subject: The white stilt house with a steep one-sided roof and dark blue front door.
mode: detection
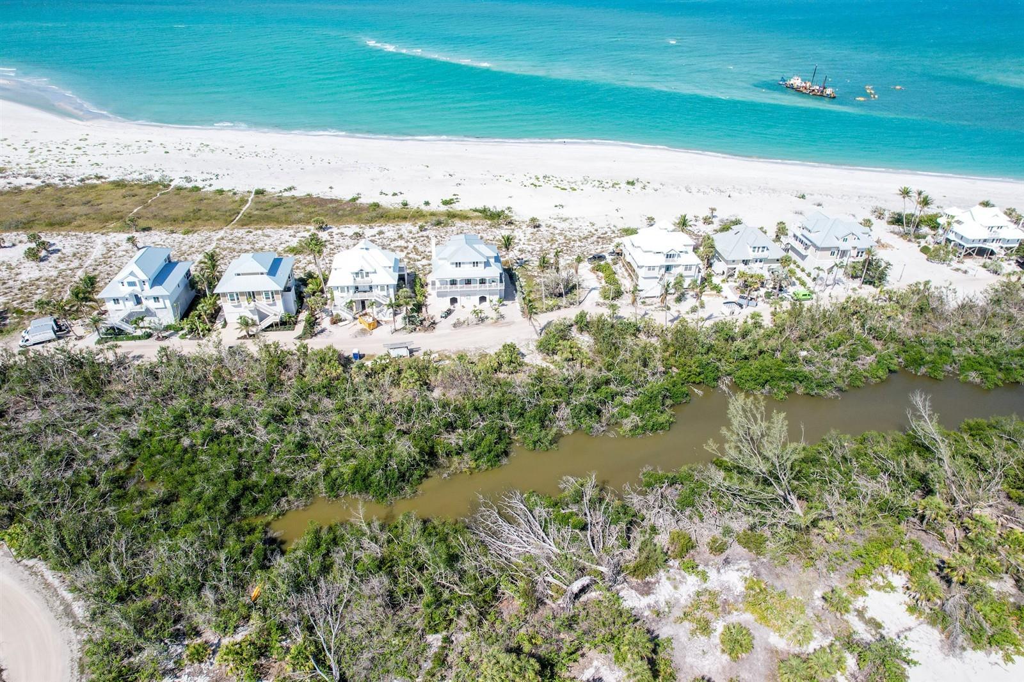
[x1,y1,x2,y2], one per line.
[97,240,196,340]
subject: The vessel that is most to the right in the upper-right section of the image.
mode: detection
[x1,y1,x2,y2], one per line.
[775,61,841,99]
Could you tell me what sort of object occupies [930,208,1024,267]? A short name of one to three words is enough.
house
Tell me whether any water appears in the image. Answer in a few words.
Yes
